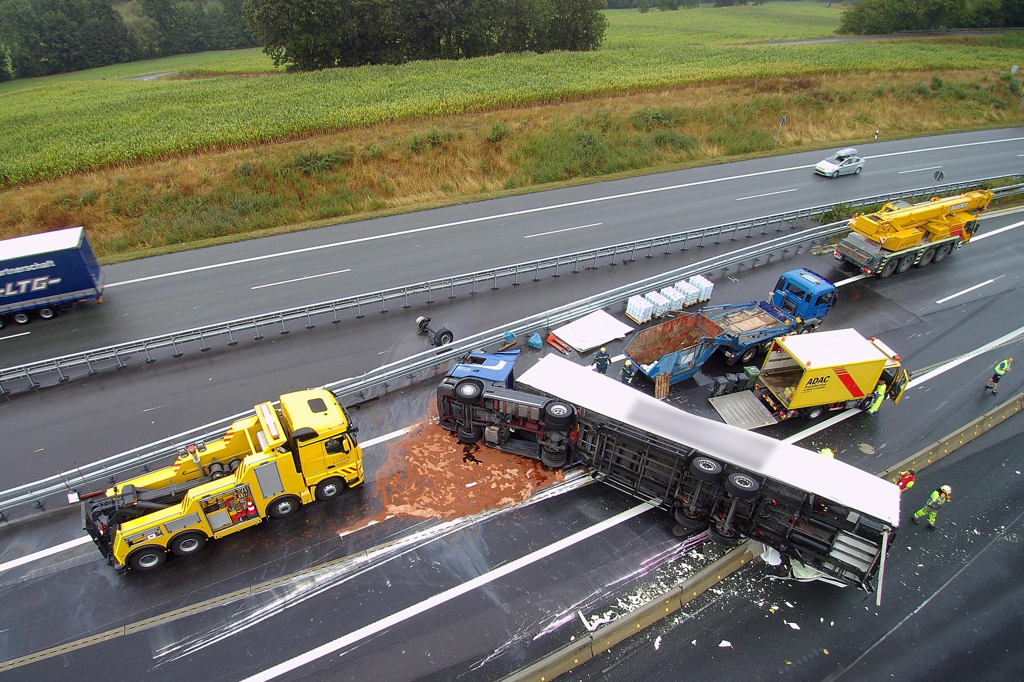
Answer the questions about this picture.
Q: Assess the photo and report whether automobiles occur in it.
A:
Yes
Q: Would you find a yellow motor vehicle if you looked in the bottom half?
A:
Yes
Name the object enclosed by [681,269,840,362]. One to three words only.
vehicle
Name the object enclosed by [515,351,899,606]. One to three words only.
trailer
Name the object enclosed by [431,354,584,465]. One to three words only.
truck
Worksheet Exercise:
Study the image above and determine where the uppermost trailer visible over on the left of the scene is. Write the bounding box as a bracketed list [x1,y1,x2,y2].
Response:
[0,228,109,330]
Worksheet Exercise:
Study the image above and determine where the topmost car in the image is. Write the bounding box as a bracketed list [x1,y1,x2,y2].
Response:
[814,149,867,177]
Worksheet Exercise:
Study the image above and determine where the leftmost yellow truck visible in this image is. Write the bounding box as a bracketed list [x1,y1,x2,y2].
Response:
[89,392,366,576]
